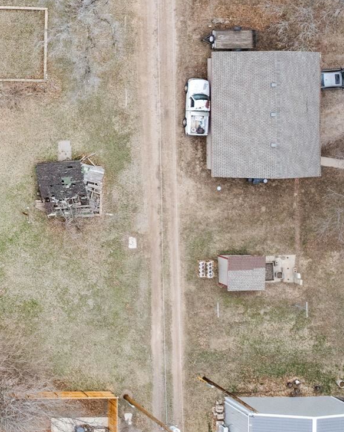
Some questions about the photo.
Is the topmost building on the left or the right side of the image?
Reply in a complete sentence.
The topmost building appears in the right half of the scene.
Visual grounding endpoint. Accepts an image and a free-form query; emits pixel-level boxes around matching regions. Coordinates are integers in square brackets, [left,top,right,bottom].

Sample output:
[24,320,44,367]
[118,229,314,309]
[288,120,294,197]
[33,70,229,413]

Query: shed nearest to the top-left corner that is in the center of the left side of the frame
[35,152,113,216]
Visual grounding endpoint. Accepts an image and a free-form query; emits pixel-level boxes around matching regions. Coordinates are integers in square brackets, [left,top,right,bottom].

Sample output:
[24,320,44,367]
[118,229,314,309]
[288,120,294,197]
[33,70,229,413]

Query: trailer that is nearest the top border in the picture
[203,27,259,52]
